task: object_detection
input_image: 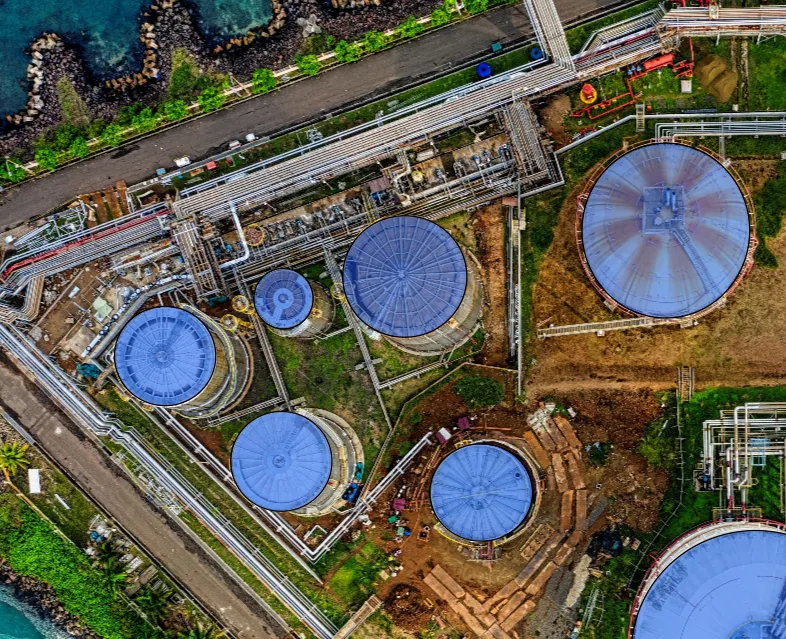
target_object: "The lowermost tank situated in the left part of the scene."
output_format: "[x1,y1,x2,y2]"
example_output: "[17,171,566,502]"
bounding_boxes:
[230,403,358,512]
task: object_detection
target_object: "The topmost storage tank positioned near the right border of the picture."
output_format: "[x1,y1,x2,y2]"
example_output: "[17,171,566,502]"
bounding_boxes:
[576,135,761,326]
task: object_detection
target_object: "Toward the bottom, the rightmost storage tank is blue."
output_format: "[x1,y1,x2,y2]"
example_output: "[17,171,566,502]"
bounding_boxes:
[625,520,786,639]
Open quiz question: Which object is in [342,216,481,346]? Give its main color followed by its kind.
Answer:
blue storage tank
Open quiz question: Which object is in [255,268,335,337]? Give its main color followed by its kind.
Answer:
blue storage tank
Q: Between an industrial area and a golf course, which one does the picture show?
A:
industrial area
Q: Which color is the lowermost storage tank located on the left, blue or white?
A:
blue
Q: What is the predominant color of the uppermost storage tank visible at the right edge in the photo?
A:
blue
